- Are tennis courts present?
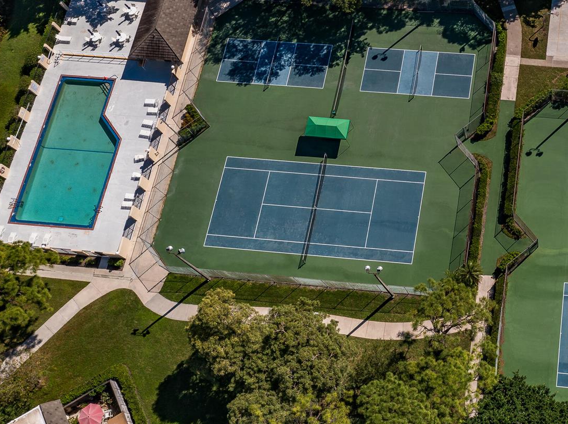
Yes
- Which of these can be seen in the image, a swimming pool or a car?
swimming pool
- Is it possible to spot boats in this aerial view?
No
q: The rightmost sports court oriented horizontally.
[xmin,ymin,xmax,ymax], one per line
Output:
[360,47,475,99]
